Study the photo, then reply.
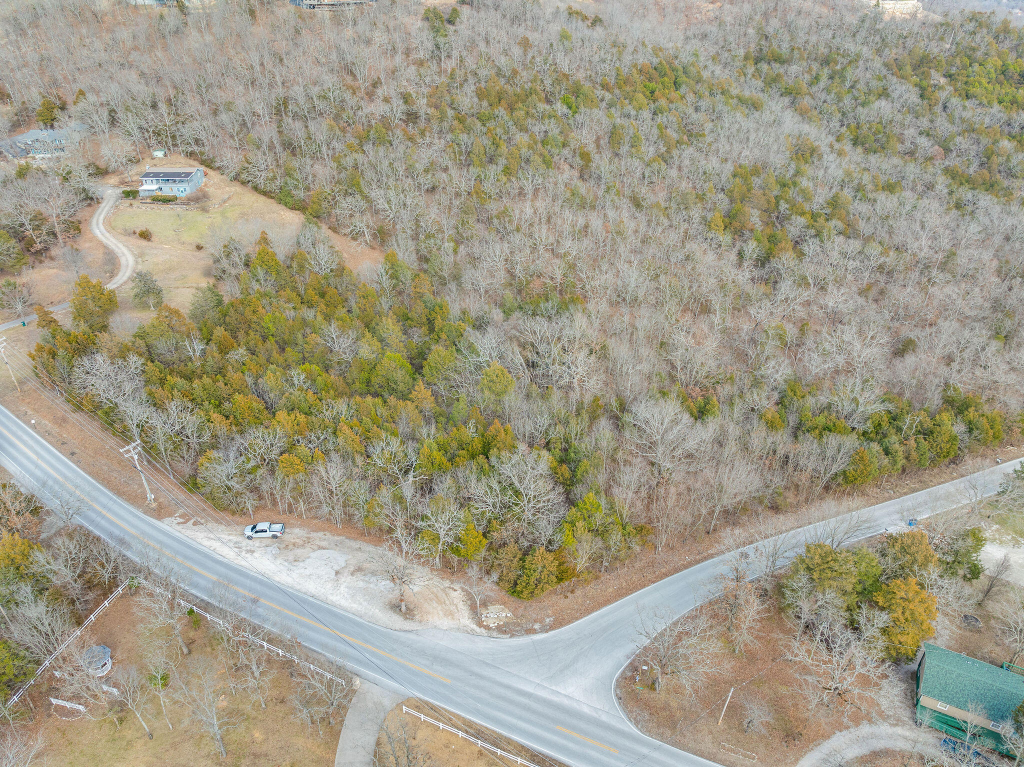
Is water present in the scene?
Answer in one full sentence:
No, there is no water in the image.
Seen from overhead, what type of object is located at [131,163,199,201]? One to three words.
house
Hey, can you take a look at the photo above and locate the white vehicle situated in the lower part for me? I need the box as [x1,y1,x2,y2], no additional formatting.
[240,522,285,541]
